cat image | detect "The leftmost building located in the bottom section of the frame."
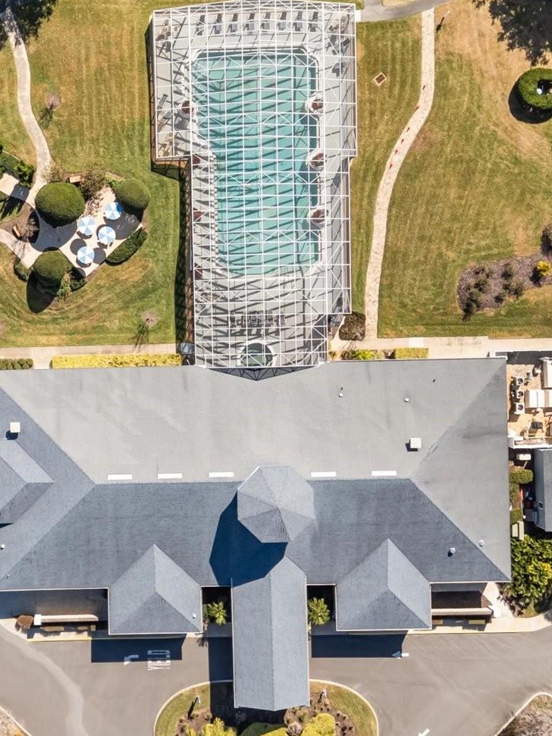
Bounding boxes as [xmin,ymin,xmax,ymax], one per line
[0,357,511,710]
